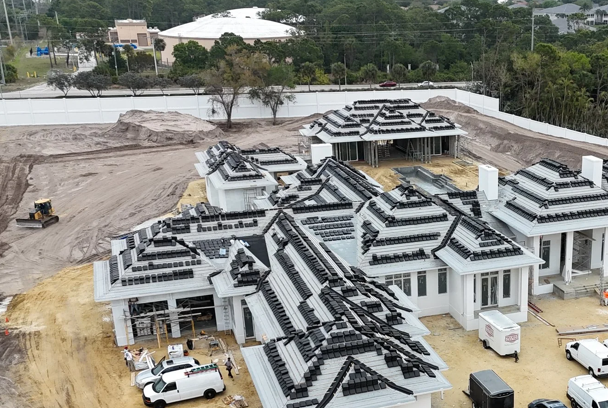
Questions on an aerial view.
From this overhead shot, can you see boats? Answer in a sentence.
No, I can't see a single boat in this photo.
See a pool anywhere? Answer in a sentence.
Yes, the photo shows a pool.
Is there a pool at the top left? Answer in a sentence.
No, there's no pool to be seen at the top left.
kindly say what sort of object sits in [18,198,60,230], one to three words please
work vehicle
